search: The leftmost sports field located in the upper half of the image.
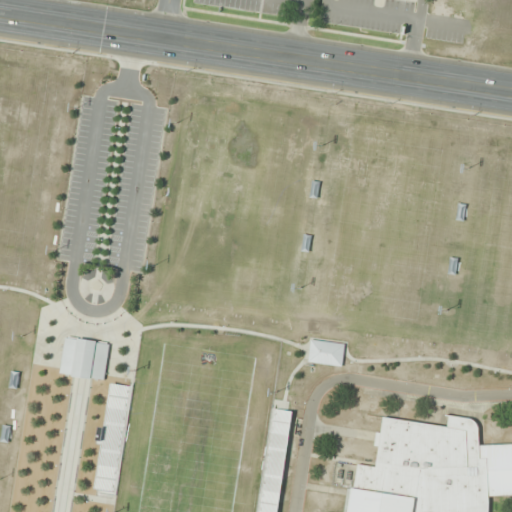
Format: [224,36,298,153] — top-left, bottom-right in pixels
[170,104,312,301]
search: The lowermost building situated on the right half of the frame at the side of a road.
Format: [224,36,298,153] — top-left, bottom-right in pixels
[344,414,512,512]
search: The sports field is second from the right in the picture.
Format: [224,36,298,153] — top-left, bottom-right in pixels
[316,114,457,327]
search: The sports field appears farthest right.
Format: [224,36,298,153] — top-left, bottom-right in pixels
[462,114,512,298]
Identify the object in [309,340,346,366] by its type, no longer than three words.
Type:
building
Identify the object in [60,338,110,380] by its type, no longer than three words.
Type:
building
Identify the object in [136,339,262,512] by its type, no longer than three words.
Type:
sports field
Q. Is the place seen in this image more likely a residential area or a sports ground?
sports ground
